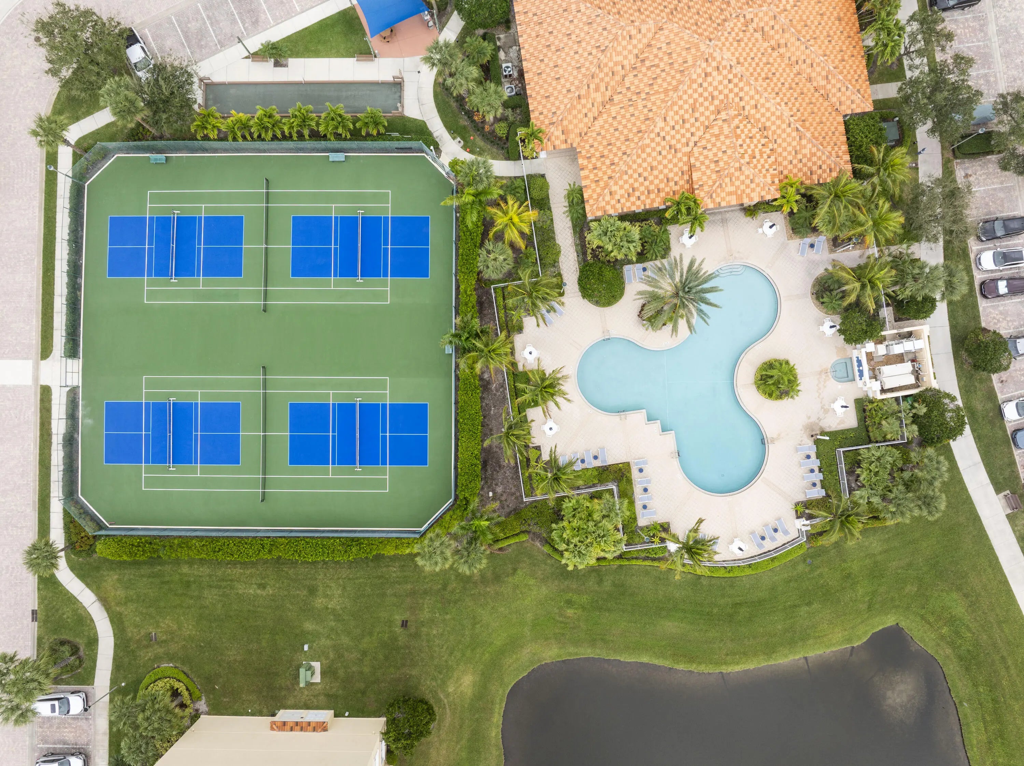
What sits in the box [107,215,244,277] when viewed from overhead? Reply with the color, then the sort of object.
blue sports court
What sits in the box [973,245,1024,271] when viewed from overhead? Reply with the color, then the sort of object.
white car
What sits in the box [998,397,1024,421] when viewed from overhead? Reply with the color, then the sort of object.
white car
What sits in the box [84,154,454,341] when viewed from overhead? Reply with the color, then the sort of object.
green tennis court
